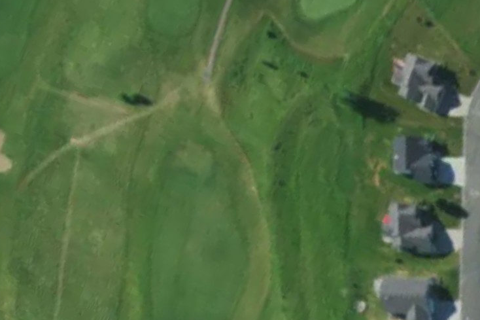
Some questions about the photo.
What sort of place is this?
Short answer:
golf course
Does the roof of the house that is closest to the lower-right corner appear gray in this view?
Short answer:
Yes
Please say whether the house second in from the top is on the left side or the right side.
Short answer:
right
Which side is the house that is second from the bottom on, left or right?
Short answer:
right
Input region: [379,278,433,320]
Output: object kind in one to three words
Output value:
house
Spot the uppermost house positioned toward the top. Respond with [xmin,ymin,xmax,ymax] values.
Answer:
[398,54,444,113]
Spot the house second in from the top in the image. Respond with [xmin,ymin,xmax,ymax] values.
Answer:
[393,134,441,185]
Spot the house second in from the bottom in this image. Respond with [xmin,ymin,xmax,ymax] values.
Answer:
[388,201,436,257]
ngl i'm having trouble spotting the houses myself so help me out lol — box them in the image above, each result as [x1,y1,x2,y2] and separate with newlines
[379,278,433,320]
[398,54,444,113]
[393,134,441,185]
[388,201,436,257]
